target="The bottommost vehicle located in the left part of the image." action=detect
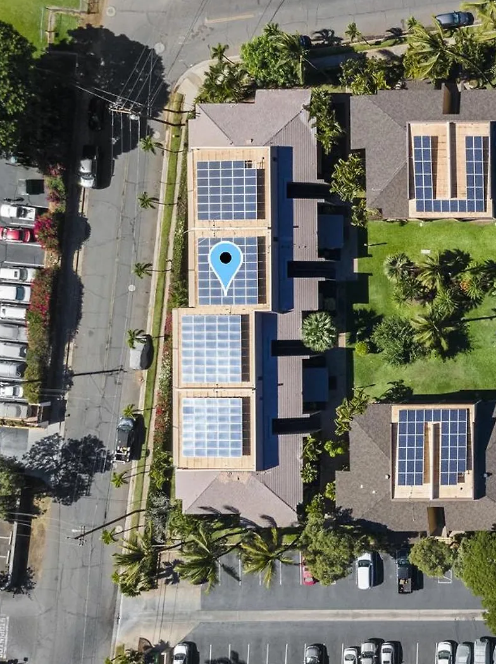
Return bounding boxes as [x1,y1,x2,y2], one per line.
[173,640,193,664]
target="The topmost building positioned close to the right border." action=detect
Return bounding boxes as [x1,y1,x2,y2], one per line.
[352,79,496,224]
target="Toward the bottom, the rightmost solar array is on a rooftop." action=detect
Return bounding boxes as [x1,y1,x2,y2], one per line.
[399,410,468,485]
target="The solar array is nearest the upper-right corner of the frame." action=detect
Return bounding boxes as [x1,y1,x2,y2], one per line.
[414,136,484,212]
